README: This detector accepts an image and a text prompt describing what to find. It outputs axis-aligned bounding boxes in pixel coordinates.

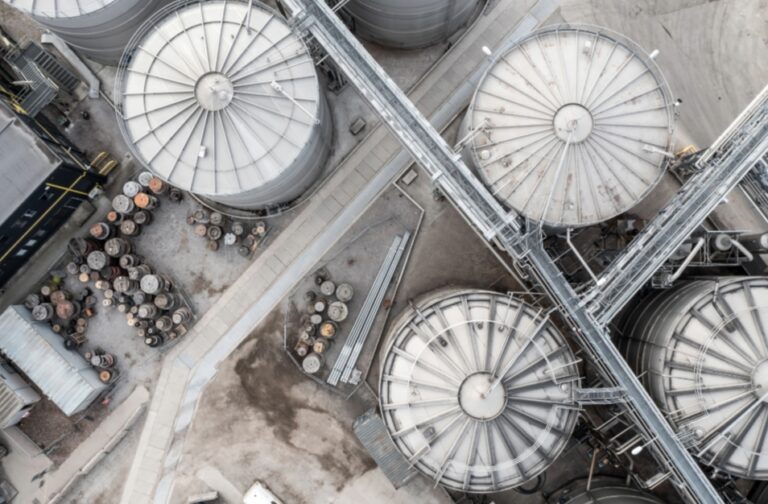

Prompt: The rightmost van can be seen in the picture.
[245,473,299,504]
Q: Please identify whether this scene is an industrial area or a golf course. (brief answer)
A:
industrial area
